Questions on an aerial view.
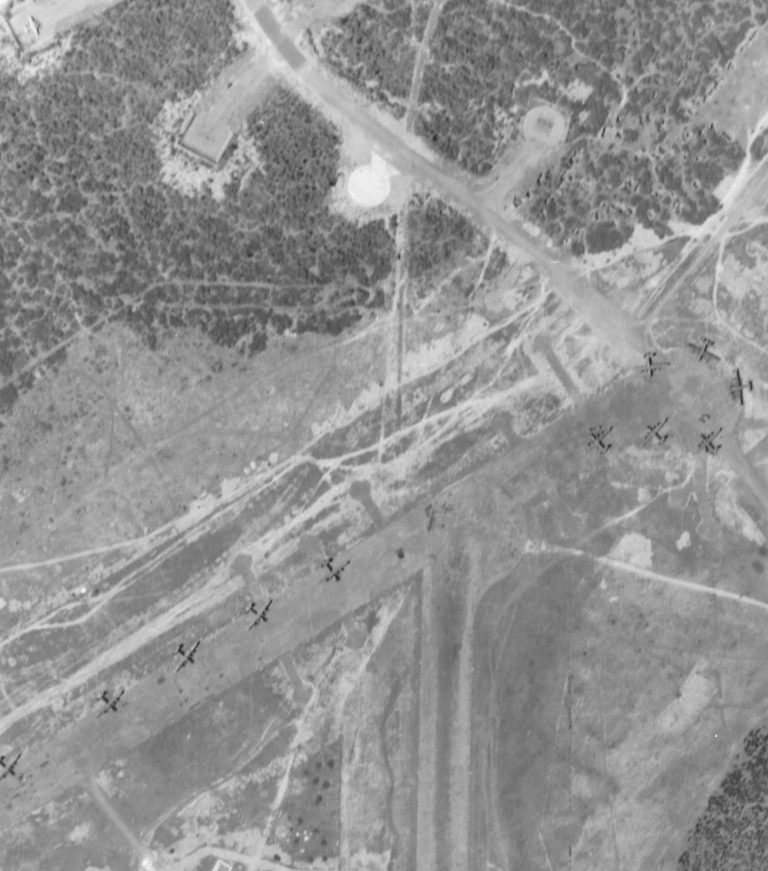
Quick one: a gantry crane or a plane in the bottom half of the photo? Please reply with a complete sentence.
There is a plane in the bottom half of the photo.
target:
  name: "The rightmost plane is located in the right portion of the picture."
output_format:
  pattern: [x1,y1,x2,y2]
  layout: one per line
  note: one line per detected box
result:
[731,369,753,406]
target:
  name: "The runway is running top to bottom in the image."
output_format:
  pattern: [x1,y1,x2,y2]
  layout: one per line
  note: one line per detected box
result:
[416,541,481,871]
